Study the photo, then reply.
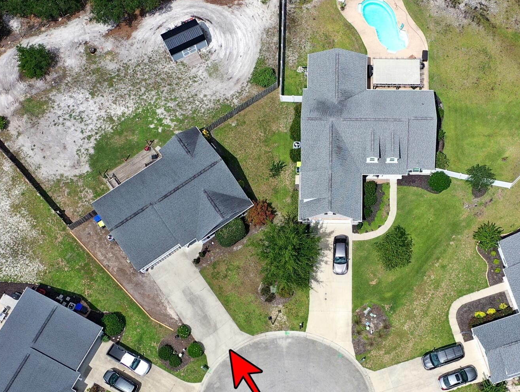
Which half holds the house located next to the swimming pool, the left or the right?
right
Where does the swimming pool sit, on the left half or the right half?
right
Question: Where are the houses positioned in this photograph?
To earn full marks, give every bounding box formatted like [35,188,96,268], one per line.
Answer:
[0,287,104,392]
[91,126,254,274]
[298,47,437,223]
[470,232,520,384]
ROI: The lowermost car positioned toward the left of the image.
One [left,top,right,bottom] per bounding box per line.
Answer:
[101,367,143,392]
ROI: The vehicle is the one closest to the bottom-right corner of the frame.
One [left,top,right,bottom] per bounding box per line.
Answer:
[439,365,478,391]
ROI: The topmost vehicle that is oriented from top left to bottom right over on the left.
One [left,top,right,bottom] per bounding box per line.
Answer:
[103,340,154,377]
